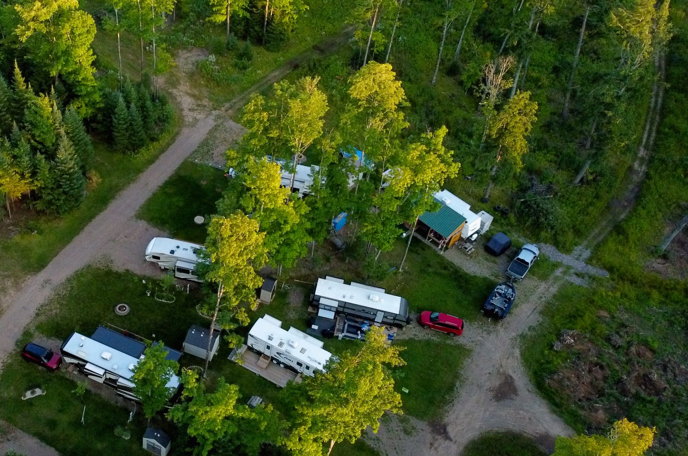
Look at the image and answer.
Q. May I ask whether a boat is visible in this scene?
Yes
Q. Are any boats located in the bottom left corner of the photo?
No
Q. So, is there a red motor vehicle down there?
Yes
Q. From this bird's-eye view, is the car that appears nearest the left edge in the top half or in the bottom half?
bottom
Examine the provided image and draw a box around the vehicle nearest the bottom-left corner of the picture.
[20,339,66,373]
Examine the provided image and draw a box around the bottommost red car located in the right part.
[417,309,468,338]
